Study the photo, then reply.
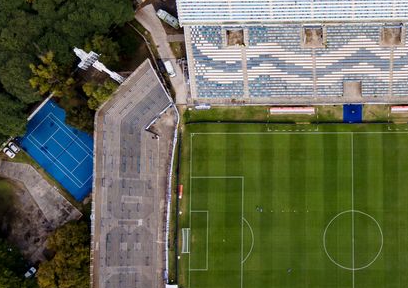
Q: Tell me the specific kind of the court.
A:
tennis court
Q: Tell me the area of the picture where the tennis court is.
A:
left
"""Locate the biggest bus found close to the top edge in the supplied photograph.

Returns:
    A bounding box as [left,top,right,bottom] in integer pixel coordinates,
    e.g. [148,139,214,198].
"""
[156,9,182,33]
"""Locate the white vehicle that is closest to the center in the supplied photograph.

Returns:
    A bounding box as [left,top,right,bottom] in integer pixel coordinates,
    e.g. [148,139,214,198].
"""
[163,59,175,77]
